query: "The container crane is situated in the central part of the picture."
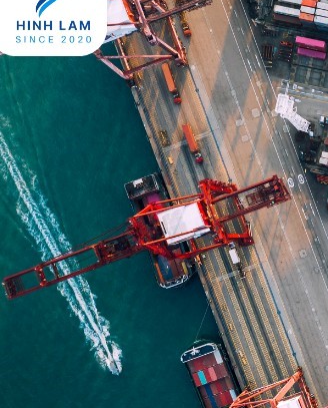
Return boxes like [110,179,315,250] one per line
[0,174,289,299]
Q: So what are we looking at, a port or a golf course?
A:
port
